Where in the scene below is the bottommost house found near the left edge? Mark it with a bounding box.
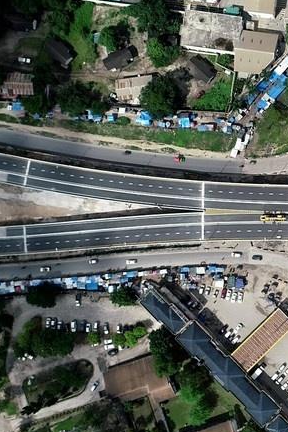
[0,74,36,97]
